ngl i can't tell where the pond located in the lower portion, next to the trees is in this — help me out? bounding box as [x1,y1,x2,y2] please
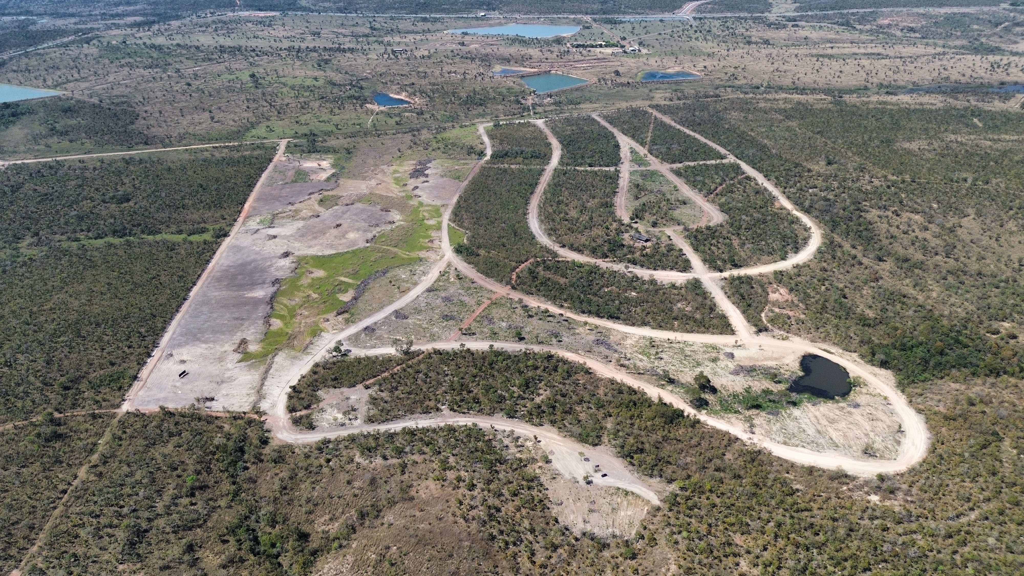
[788,354,852,399]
